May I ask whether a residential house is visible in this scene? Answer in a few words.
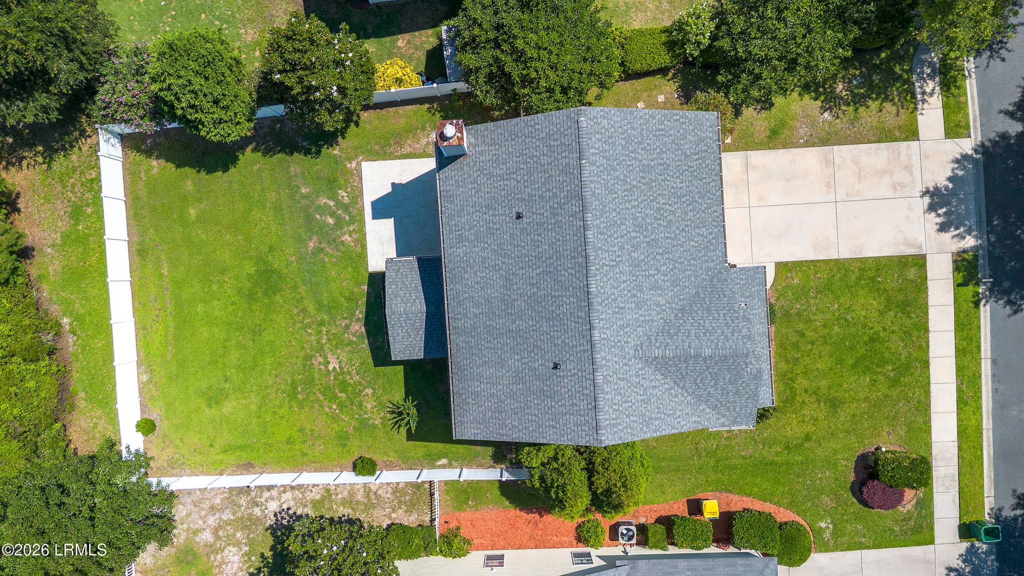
Yes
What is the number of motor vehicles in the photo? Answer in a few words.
0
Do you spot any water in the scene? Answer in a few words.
No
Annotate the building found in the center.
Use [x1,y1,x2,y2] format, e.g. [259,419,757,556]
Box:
[385,105,775,447]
